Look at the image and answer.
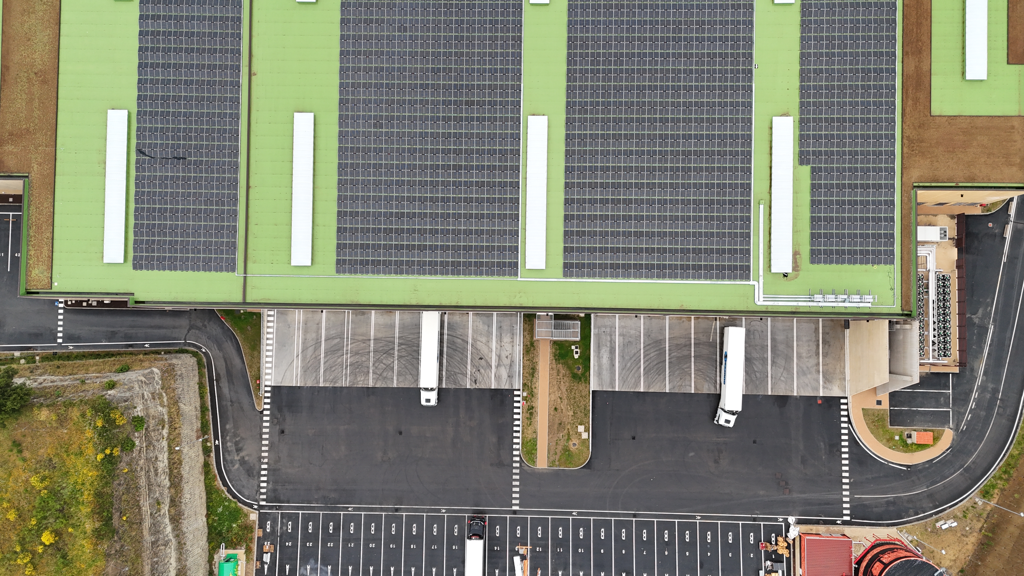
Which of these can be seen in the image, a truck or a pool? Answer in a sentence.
The image shows a truck.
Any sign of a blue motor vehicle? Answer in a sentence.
No, this view has no blue motor vehicle in it.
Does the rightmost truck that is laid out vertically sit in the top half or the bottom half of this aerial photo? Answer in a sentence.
The bottom half of the photo is where the rightmost truck that is laid out vertically is.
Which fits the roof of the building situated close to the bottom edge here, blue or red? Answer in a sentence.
The color of the roof of the building situated close to the bottom edge is red.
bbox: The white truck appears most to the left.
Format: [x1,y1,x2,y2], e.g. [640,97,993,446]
[419,312,441,406]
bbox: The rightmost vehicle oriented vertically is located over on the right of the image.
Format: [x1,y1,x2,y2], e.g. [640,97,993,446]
[712,327,745,430]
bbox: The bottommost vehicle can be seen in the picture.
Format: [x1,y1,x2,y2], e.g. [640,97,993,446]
[466,512,486,576]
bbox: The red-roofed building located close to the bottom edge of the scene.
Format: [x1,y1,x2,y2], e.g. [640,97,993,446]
[799,533,854,576]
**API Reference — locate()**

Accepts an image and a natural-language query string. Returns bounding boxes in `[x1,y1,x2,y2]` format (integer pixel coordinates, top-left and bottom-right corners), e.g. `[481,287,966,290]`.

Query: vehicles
[466,512,486,576]
[712,327,745,430]
[419,312,441,406]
